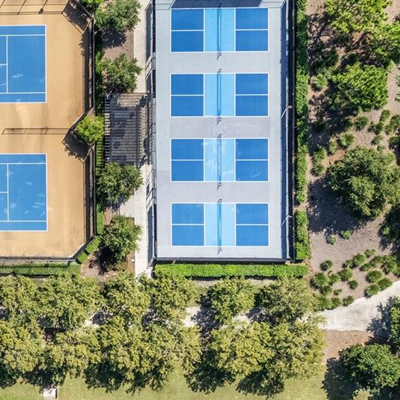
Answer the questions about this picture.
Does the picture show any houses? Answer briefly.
No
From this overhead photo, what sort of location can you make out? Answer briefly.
sports ground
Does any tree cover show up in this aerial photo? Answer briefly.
Yes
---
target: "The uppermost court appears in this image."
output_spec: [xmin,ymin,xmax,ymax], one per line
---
[152,0,287,62]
